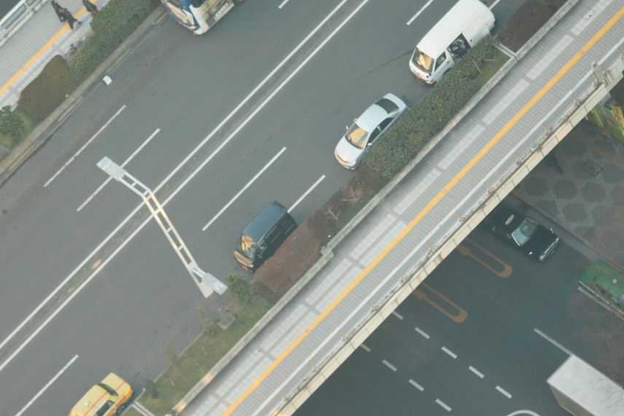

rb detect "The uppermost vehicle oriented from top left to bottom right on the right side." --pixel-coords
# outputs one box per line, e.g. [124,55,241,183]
[482,201,561,266]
